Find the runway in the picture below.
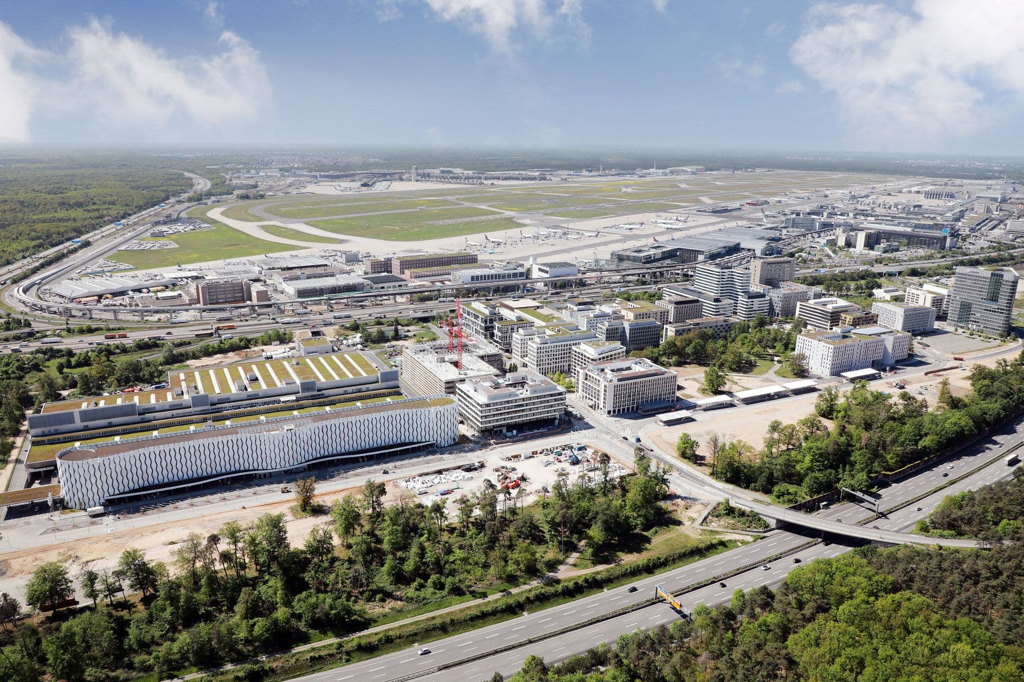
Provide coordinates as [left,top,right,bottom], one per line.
[240,172,878,226]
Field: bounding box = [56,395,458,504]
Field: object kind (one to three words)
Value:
building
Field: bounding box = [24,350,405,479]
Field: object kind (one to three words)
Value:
building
